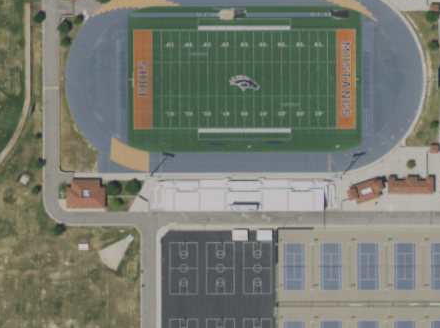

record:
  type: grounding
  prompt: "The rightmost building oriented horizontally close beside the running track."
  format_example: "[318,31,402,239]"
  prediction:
[388,176,434,194]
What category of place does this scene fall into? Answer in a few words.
sports ground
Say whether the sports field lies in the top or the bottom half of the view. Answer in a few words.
top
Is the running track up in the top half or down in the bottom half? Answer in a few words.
top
